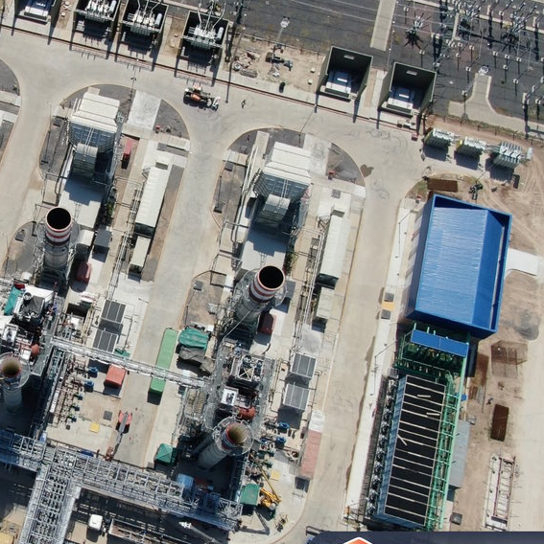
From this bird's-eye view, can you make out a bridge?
Yes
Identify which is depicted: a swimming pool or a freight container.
freight container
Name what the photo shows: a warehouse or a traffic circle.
warehouse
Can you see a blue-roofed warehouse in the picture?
Yes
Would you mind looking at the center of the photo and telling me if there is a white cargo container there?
Yes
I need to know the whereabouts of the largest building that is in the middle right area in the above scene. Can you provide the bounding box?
[392,193,514,350]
